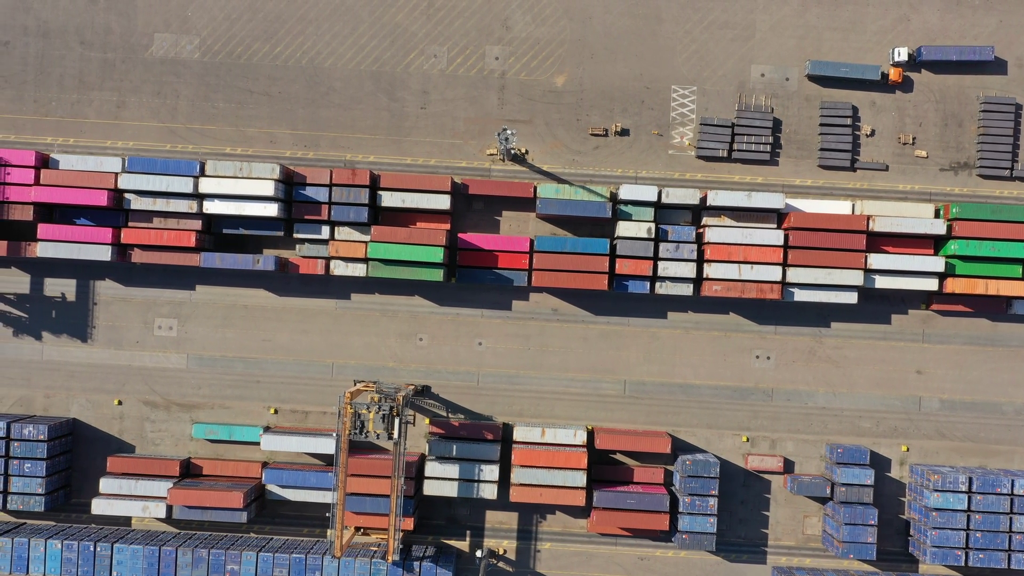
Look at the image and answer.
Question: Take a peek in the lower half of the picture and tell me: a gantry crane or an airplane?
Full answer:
Visible in the lower half of the picture is a gantry crane.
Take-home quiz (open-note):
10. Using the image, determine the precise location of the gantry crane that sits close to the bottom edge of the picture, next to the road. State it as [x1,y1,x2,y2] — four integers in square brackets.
[327,376,441,565]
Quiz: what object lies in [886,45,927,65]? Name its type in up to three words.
vehicle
